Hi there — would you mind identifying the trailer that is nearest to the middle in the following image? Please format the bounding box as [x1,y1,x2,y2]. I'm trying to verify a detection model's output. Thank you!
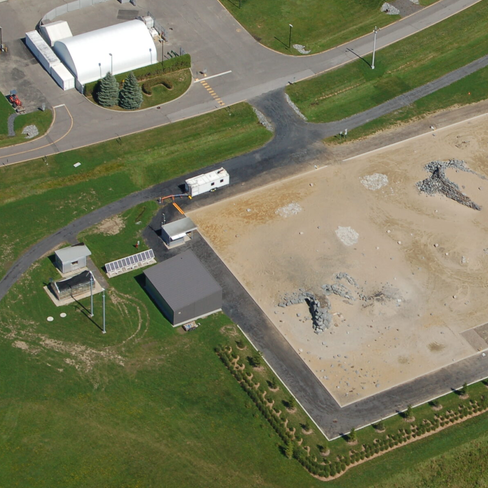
[182,167,229,199]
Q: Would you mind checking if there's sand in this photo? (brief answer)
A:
Yes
